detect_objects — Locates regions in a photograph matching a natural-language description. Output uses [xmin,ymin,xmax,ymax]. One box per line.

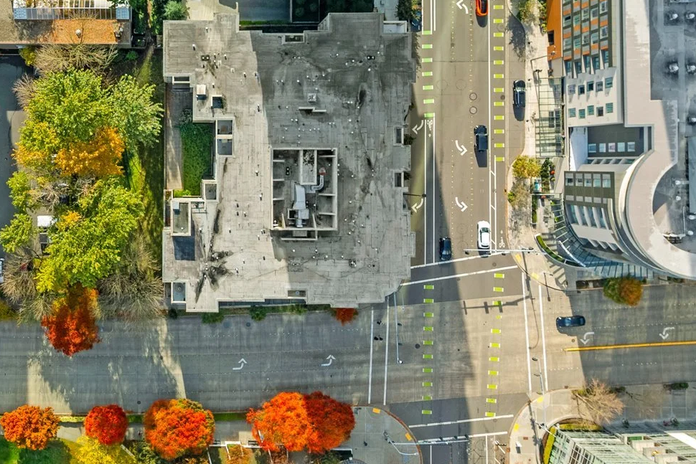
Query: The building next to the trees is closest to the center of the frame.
[163,12,416,312]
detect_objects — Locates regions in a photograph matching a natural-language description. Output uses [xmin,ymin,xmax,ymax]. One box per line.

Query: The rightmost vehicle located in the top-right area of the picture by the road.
[512,82,527,109]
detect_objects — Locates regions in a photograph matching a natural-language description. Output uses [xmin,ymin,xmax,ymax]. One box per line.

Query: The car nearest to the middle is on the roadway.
[438,235,452,263]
